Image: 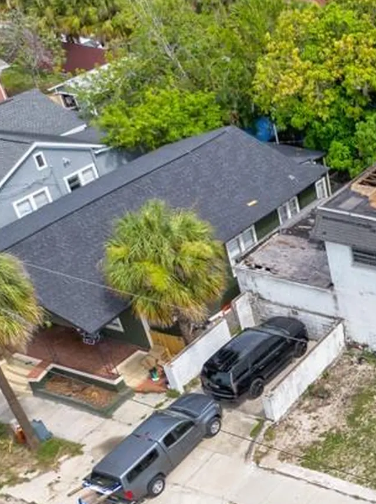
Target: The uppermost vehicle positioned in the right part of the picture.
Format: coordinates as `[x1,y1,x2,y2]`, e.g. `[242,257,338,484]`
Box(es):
[195,318,309,407]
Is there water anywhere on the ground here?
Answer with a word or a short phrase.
No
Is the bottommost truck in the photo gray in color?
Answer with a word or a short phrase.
Yes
